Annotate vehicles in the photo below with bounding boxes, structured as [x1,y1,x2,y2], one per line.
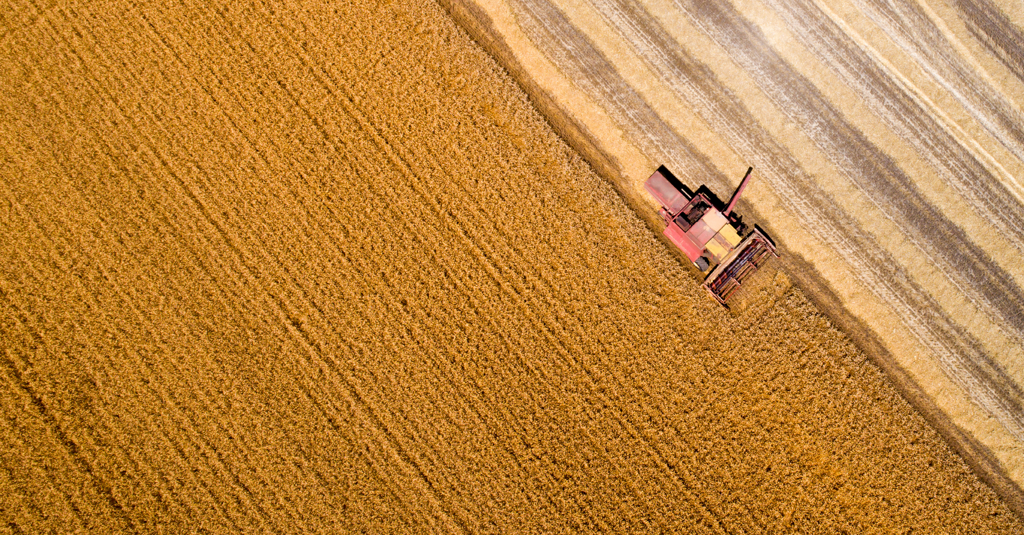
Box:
[642,171,782,311]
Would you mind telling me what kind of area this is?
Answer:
farmland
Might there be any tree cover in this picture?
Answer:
No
